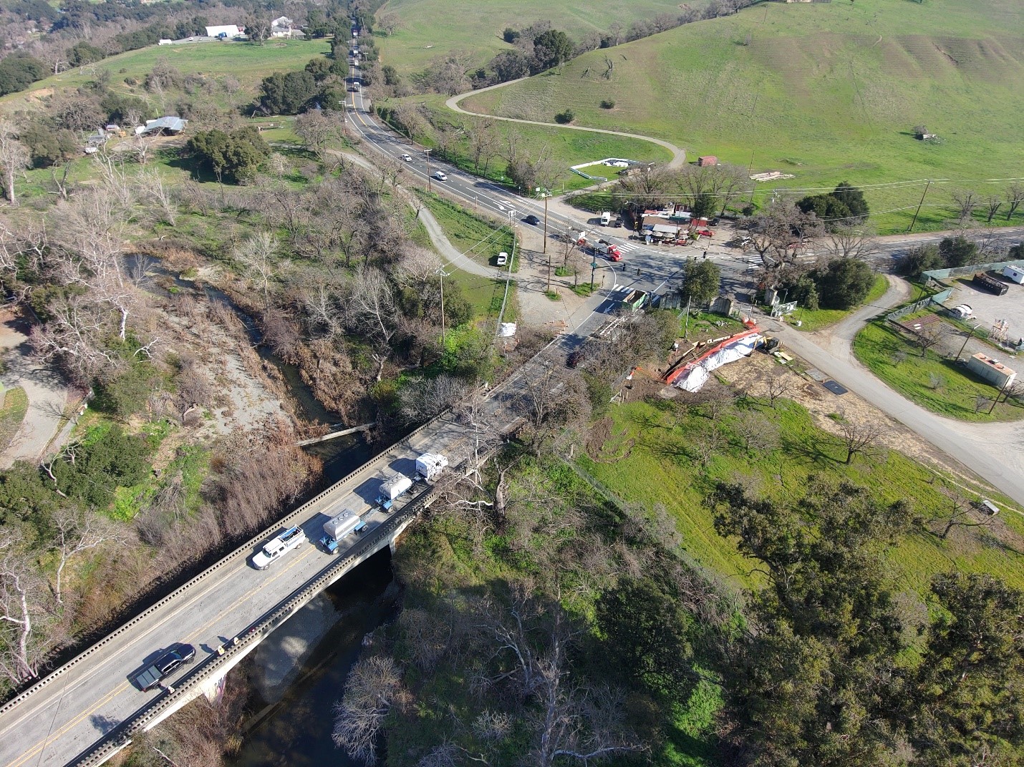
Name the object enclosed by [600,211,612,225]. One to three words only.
vehicle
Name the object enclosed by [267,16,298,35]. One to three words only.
house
